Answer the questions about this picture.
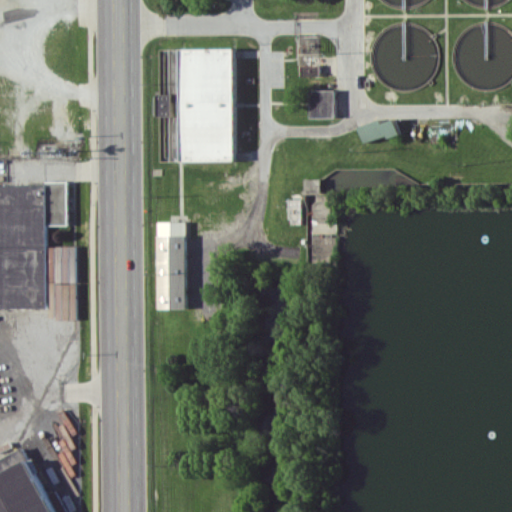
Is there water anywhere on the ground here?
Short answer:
Yes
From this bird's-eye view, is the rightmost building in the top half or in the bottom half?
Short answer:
top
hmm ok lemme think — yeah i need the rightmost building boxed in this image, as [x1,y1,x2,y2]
[357,120,400,144]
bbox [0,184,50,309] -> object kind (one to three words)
building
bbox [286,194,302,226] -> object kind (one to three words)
house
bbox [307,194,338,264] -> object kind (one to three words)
building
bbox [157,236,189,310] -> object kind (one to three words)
shed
